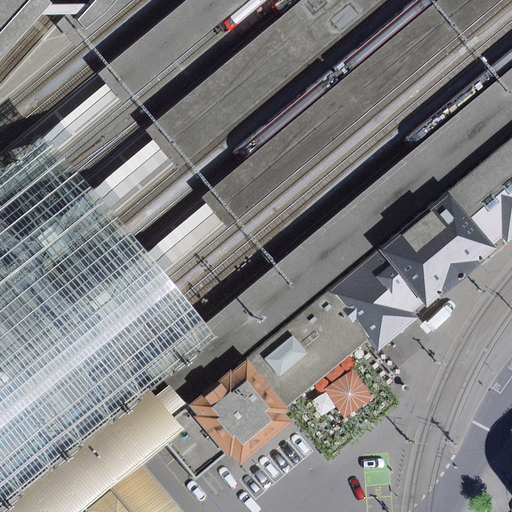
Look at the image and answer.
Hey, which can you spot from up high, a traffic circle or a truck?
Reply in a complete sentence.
The one in the frame is a truck.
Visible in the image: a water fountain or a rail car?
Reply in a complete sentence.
Looking from above, you can make out a rail car.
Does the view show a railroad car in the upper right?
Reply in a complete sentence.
Yes, a railroad car appears in the upper right.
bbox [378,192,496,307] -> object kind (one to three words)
building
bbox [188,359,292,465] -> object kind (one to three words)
building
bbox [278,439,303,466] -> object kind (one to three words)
car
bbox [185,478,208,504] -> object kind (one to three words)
car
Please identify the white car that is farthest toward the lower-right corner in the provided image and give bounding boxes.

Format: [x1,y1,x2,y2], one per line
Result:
[362,458,386,470]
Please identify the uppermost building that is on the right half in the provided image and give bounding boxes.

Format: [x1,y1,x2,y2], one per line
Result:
[448,138,512,247]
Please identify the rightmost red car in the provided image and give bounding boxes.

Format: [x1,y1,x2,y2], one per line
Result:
[348,476,366,502]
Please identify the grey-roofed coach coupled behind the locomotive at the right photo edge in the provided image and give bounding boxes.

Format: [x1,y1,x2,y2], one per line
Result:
[491,49,512,78]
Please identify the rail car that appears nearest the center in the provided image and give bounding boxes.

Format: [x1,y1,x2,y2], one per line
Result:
[236,66,345,160]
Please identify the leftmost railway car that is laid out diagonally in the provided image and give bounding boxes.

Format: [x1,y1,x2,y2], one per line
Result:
[212,0,270,39]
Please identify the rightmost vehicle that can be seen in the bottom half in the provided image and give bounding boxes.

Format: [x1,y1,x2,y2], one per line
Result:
[418,298,459,336]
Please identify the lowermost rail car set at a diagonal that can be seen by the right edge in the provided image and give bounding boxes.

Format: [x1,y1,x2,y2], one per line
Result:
[408,72,495,146]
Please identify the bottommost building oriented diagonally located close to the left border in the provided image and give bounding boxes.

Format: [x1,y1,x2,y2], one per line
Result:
[10,393,184,512]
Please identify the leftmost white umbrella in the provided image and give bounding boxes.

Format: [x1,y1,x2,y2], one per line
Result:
[313,393,336,415]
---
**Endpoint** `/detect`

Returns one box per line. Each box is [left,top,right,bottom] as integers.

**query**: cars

[249,464,274,492]
[269,448,294,476]
[348,476,366,502]
[242,473,264,498]
[362,458,386,470]
[258,454,282,480]
[216,466,239,491]
[290,431,314,458]
[278,439,303,466]
[185,478,208,504]
[238,489,263,512]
